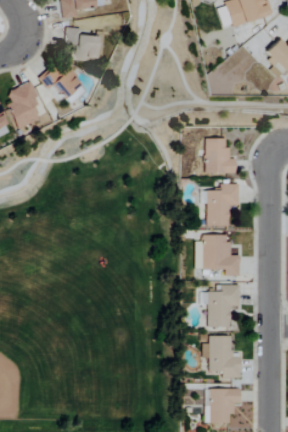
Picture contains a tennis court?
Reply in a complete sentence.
No, there is no tennis court in the image.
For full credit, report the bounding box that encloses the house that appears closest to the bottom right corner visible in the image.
[203,389,242,424]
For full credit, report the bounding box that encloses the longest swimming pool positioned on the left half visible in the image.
[78,71,95,98]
